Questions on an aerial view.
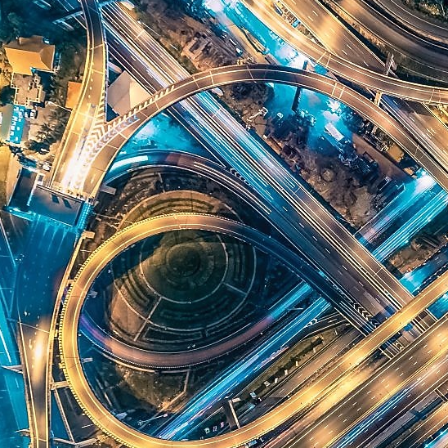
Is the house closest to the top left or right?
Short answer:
left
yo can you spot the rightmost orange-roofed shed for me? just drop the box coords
[64,81,82,108]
